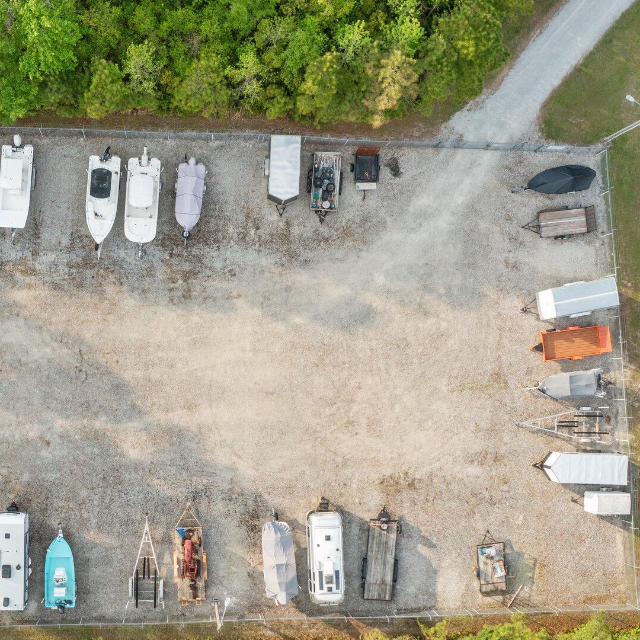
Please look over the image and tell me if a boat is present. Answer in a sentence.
Yes, a boat can be made out from above.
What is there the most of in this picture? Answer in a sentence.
For the most part, this view shows paved ground.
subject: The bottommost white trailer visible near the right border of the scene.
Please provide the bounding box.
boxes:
[571,486,631,516]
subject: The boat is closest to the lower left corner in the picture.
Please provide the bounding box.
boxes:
[45,537,76,619]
